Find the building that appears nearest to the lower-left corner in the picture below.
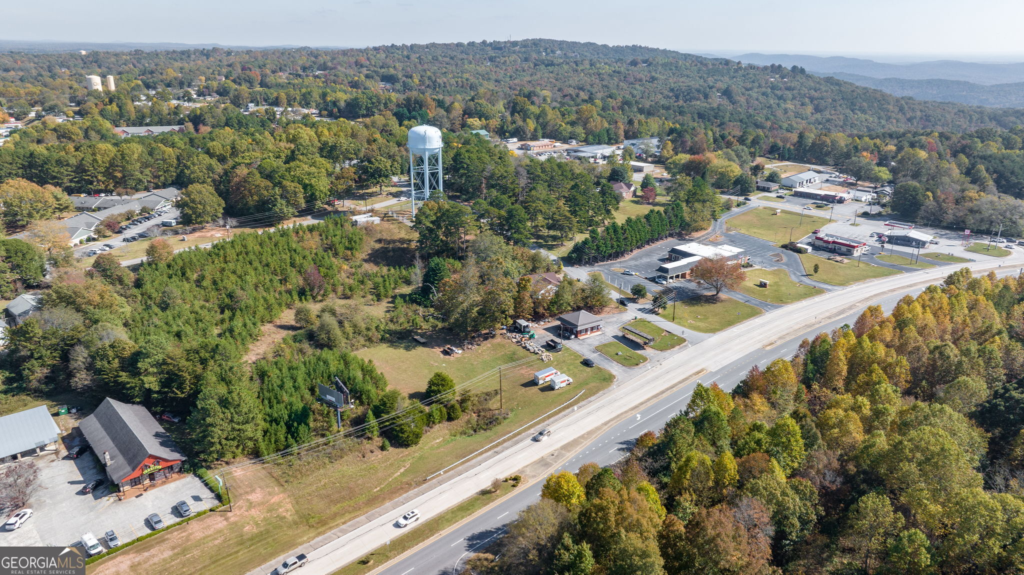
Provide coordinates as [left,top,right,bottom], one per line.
[0,405,61,465]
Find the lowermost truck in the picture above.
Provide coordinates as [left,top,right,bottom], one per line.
[276,552,312,575]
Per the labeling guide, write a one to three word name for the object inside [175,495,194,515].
car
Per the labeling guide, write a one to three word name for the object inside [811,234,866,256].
building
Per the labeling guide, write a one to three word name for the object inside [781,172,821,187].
building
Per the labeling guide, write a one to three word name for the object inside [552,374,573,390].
vehicle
